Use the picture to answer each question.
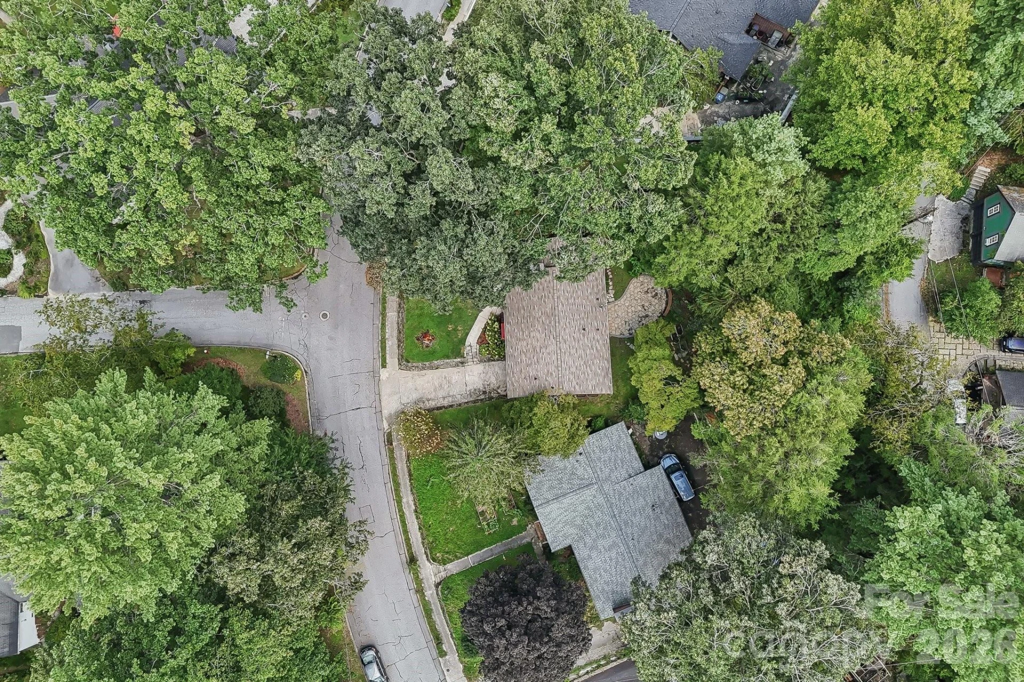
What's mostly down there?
trees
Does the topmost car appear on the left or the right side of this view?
right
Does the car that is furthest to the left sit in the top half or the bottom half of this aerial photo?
bottom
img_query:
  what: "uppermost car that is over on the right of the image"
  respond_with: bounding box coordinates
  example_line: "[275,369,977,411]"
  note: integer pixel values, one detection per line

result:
[1004,335,1024,355]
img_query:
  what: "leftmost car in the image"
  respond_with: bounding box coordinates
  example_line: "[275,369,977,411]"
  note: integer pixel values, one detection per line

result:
[364,648,397,682]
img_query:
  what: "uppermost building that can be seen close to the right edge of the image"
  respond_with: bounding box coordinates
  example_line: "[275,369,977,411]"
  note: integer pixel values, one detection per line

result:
[971,188,1024,267]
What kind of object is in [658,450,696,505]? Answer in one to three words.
car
